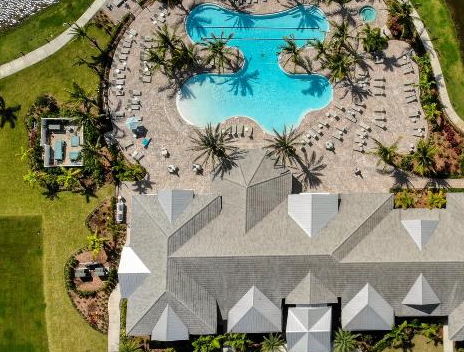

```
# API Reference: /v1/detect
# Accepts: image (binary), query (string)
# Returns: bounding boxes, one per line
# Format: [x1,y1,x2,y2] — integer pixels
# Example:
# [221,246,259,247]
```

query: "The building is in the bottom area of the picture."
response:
[118,150,464,352]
